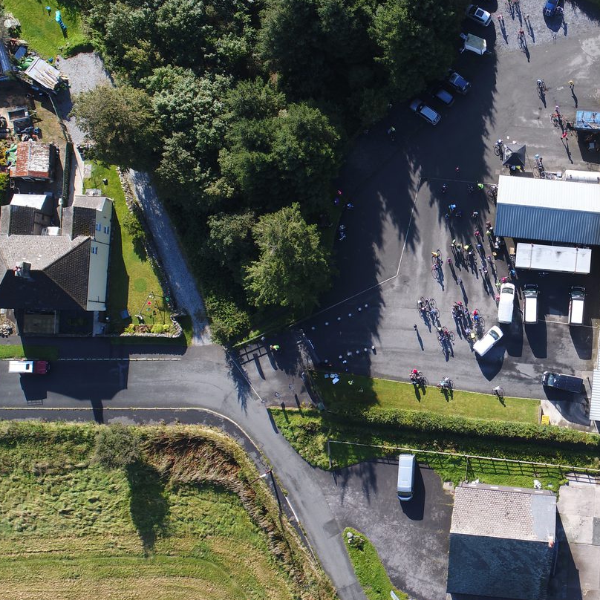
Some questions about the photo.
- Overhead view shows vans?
Yes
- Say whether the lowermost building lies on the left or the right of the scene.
right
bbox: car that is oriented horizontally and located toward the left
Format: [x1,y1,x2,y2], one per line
[7,359,53,375]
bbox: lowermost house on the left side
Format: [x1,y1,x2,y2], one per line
[0,194,114,316]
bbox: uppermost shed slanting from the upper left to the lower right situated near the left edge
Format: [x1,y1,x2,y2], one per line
[24,58,72,94]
